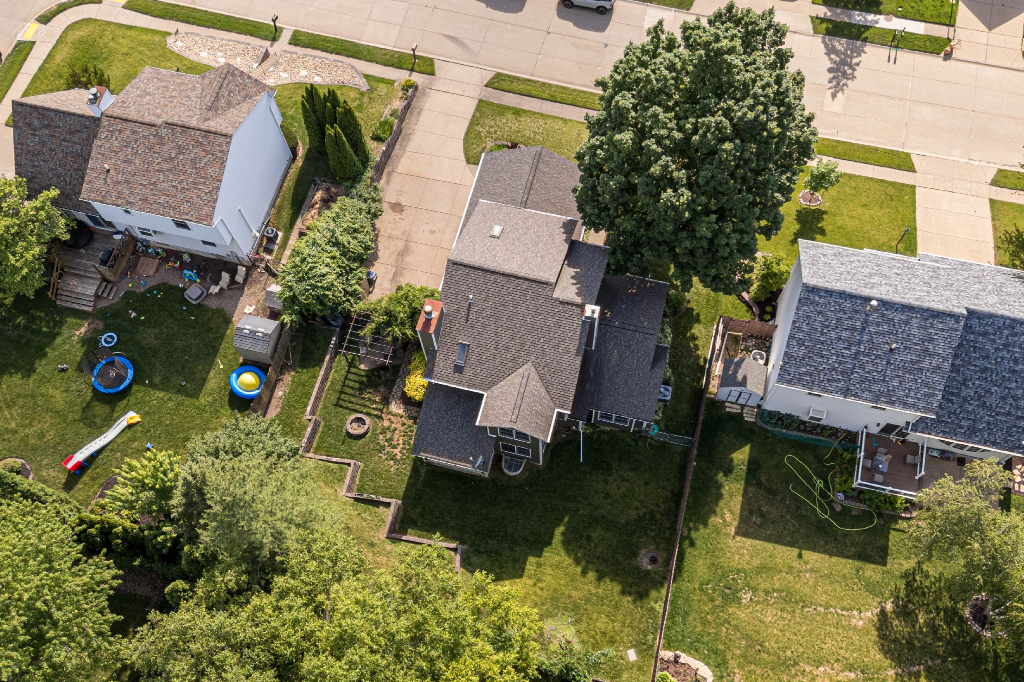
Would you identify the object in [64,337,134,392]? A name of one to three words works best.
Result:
trampoline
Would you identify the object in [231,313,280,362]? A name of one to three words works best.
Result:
shed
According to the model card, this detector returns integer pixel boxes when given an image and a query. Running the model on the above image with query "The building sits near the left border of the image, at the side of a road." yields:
[13,57,298,267]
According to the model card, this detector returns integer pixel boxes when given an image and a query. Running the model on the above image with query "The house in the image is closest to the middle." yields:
[411,140,675,485]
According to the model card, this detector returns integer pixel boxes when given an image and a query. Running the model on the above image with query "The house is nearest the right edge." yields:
[761,238,1024,469]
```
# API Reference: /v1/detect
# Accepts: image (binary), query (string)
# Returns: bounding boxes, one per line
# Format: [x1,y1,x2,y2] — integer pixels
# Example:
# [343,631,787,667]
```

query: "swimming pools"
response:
[227,362,265,402]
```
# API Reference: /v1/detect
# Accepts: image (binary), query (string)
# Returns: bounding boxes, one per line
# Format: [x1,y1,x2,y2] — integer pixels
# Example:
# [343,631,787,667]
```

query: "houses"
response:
[411,140,675,485]
[13,57,298,267]
[761,238,1024,469]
